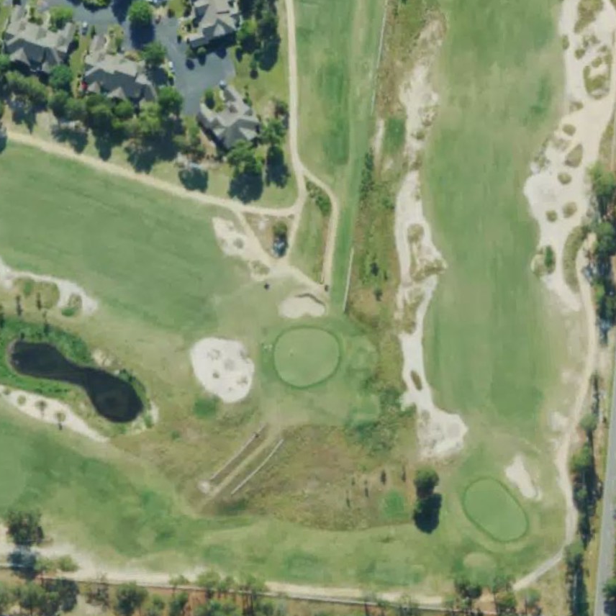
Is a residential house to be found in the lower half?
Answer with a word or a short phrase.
No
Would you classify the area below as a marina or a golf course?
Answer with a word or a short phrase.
golf course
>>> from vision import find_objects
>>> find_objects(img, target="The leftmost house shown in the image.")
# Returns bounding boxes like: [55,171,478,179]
[3,7,79,75]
